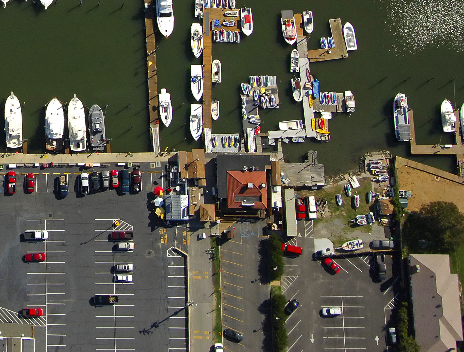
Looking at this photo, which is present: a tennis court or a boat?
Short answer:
boat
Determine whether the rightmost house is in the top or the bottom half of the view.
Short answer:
bottom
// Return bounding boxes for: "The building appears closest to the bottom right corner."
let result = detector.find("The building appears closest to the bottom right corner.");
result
[406,254,463,352]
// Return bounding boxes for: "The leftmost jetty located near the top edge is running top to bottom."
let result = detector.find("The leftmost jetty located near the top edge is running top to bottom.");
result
[144,0,161,128]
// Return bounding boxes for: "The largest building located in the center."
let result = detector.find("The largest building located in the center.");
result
[214,155,271,220]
